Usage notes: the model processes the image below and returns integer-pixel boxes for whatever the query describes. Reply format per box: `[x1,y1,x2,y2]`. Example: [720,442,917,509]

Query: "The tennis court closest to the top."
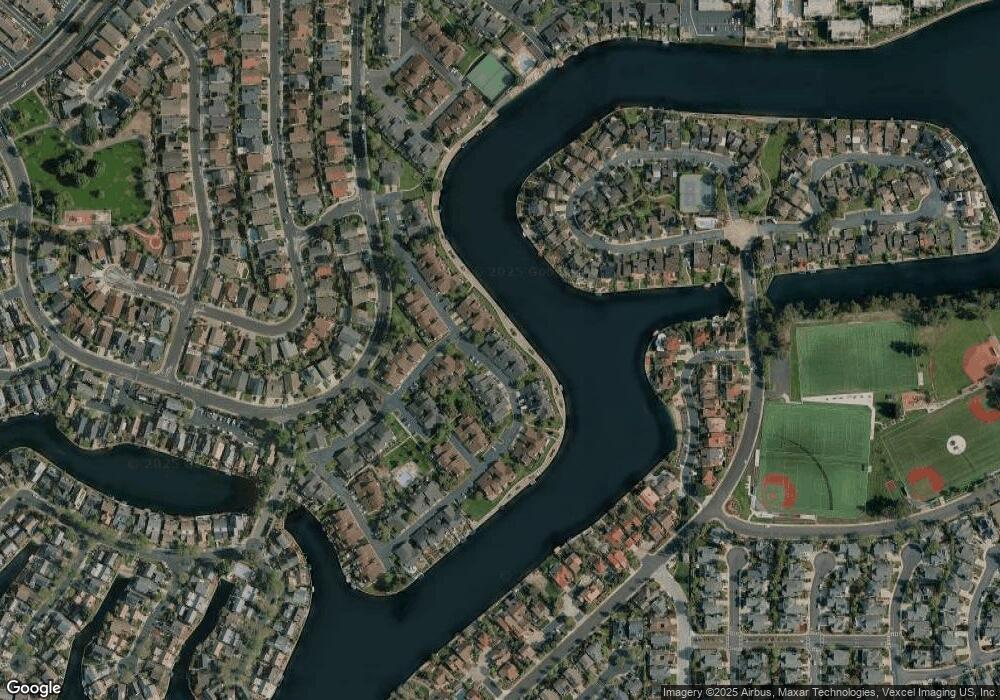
[466,52,516,101]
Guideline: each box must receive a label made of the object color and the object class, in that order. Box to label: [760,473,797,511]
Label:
red baseball field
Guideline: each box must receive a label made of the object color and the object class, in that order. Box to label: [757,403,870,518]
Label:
green sports field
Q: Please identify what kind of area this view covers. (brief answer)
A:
residential area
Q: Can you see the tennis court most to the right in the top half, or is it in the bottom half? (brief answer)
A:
top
